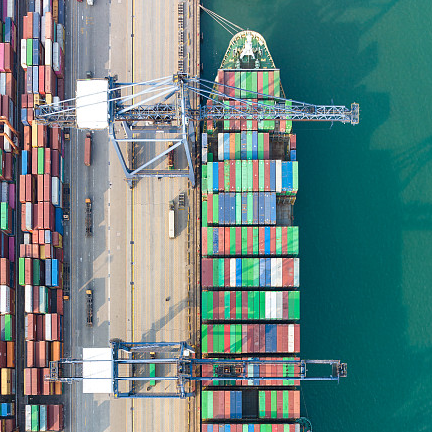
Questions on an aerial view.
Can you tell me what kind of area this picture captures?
port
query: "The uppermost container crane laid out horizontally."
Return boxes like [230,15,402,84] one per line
[34,65,358,198]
